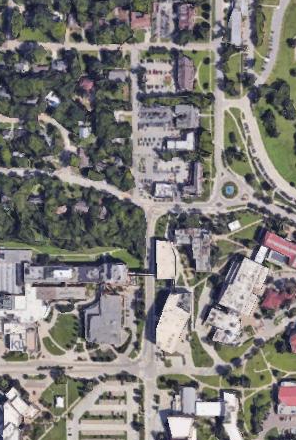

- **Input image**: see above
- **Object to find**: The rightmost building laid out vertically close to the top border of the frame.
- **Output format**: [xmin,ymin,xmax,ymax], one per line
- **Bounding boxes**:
[231,0,248,46]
